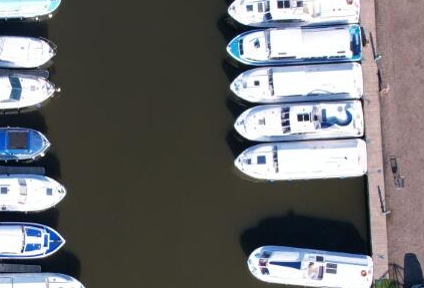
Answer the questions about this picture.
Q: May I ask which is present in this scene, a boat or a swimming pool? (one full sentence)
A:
The one in the frame is a boat.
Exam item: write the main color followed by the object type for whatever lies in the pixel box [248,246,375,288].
white boat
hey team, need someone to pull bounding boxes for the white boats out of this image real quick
[0,74,61,112]
[248,246,375,288]
[235,141,367,182]
[0,174,66,214]
[228,0,360,28]
[0,36,59,69]
[227,25,363,67]
[235,104,365,143]
[0,223,65,259]
[0,274,84,288]
[230,63,362,104]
